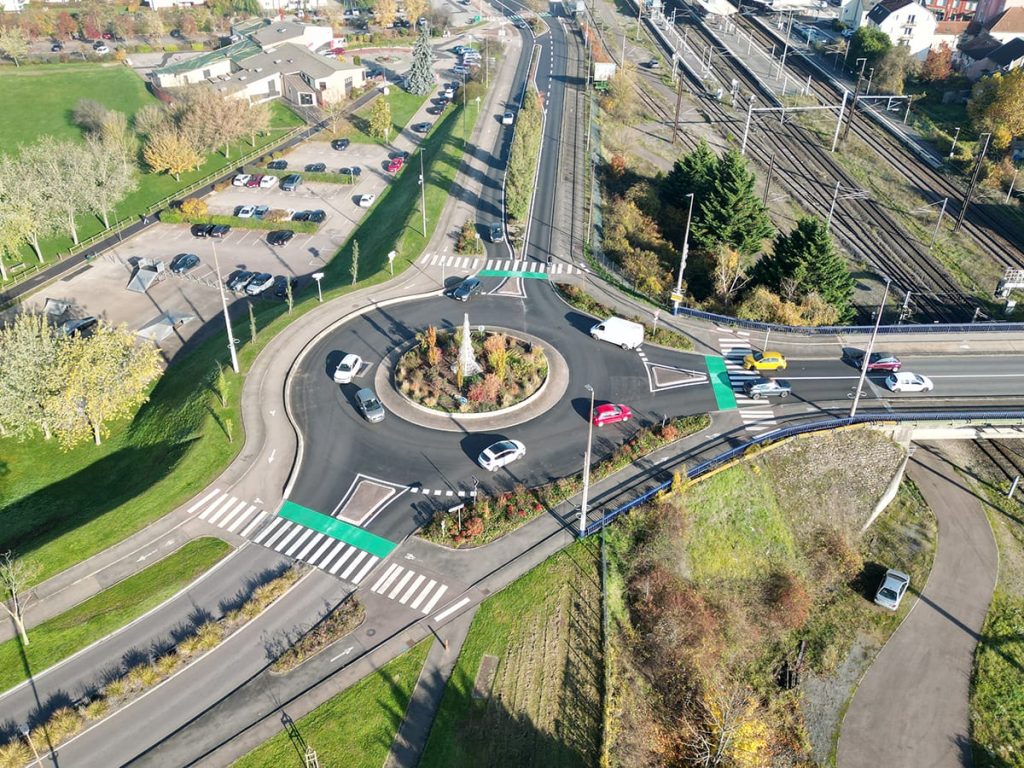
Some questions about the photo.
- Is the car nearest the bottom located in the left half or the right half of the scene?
right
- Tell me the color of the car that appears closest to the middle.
white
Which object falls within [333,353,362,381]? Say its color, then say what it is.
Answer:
white car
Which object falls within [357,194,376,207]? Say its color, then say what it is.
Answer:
white vehicle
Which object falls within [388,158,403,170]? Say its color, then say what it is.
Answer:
red vehicle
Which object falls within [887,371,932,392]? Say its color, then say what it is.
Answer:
white car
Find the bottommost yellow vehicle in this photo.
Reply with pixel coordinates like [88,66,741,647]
[745,350,787,369]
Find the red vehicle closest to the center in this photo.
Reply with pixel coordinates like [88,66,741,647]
[592,402,634,427]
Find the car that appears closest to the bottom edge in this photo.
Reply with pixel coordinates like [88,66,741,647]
[873,569,908,611]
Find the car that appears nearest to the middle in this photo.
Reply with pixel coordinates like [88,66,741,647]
[476,439,526,470]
